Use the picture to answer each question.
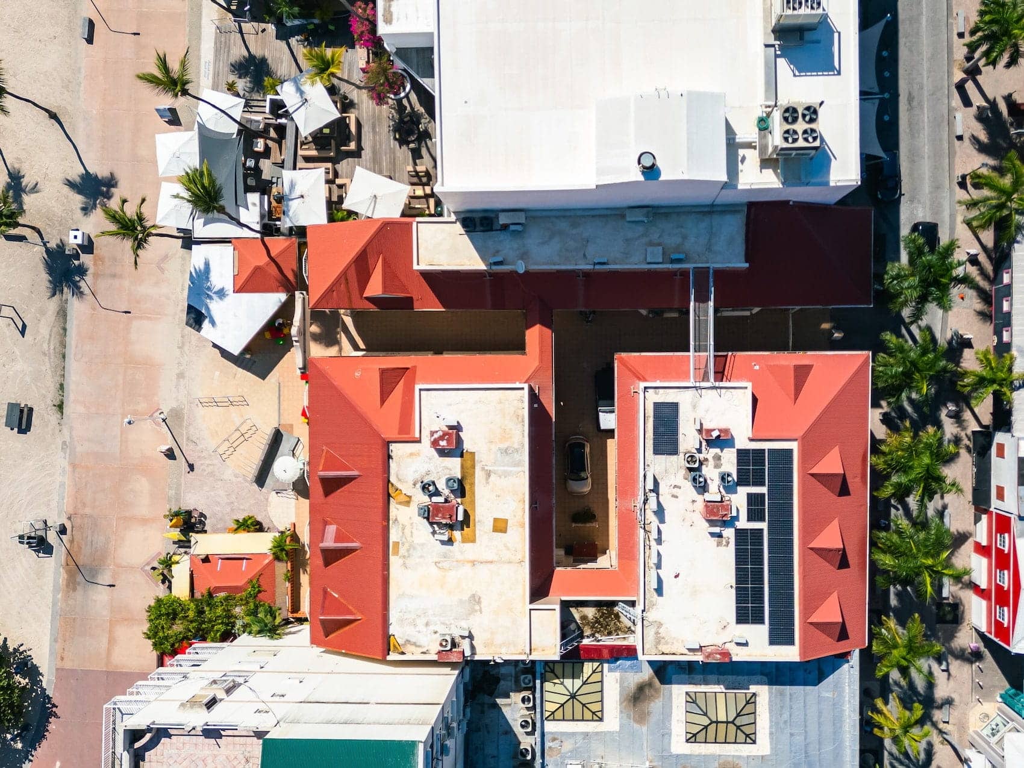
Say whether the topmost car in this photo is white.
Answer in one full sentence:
No, from above the topmost car looks black.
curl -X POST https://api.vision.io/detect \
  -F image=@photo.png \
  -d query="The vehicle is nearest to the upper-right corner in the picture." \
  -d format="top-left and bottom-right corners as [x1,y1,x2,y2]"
[872,149,902,206]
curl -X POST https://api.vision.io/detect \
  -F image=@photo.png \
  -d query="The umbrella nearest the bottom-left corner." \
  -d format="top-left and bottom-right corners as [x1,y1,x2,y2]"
[275,456,302,482]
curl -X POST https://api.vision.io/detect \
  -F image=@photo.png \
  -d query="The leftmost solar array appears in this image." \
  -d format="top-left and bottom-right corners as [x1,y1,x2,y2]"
[653,402,679,455]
